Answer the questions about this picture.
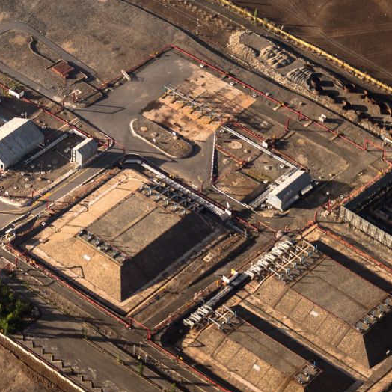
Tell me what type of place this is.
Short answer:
industrial area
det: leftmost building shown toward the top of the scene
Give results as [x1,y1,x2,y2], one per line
[0,118,46,171]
